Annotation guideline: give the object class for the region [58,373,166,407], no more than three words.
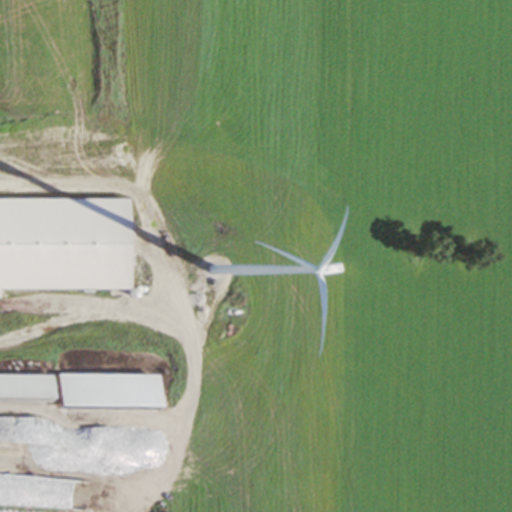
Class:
shed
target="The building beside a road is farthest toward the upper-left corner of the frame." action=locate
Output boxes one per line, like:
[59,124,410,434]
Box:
[0,198,135,296]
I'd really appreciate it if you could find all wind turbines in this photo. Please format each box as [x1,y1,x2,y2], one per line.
[206,204,350,360]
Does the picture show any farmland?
Yes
